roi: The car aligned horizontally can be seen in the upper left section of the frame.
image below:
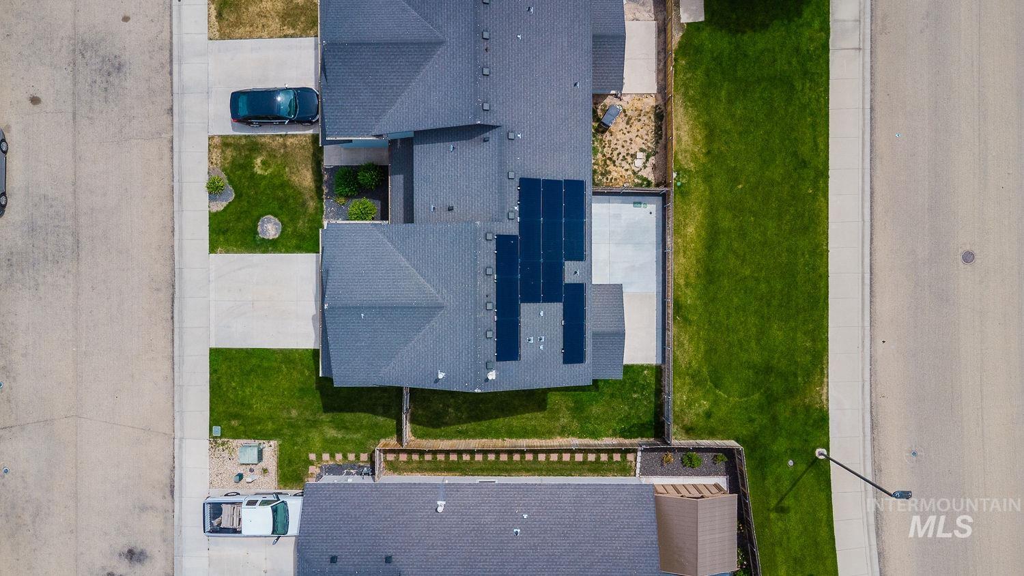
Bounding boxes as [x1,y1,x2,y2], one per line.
[230,83,317,126]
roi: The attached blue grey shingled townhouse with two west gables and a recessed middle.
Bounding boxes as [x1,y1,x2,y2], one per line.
[317,0,625,393]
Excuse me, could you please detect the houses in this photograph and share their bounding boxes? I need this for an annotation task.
[296,477,660,576]
[317,0,625,393]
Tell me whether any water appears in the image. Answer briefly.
No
